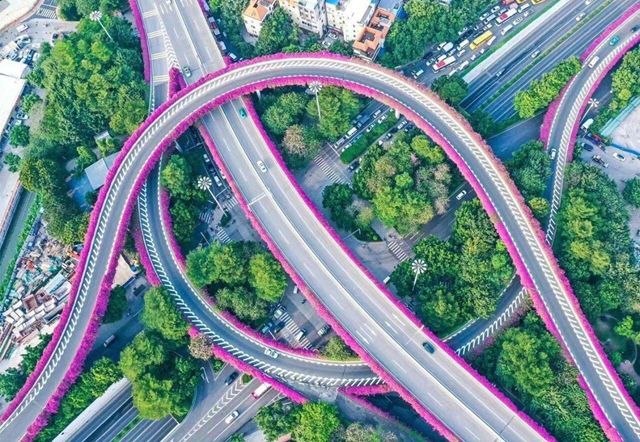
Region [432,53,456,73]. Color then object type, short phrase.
white bus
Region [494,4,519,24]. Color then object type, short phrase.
white bus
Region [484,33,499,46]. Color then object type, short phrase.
white vehicle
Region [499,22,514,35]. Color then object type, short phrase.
white vehicle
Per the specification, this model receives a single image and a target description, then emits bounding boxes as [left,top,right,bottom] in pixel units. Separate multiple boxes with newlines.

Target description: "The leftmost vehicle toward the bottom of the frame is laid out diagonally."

[101,331,119,348]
